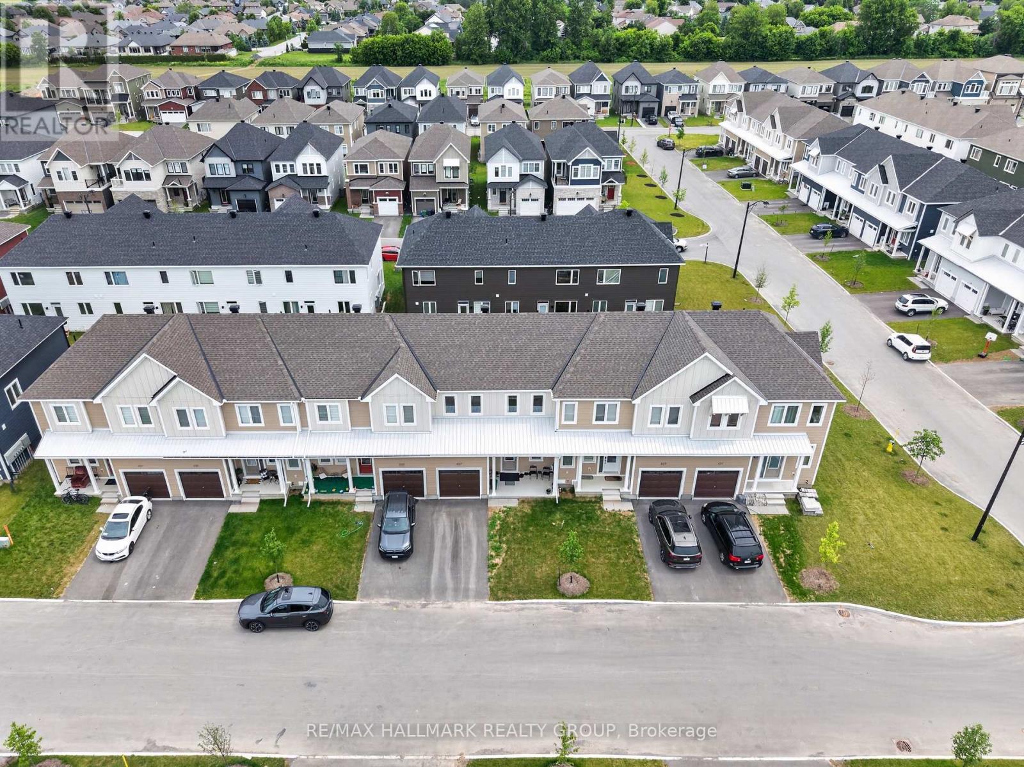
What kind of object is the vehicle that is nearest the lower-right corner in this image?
automobile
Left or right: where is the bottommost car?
left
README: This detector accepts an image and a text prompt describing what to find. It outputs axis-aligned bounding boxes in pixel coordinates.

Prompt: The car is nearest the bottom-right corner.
[701,501,766,571]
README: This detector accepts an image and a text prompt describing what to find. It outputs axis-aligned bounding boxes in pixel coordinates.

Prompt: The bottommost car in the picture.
[237,583,338,632]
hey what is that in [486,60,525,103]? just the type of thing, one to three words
house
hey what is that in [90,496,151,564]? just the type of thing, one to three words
car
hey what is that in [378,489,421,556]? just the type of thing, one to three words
car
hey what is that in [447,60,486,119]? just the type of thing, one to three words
house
